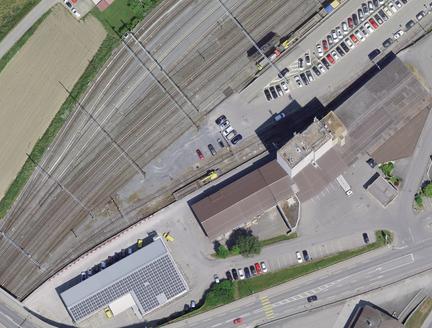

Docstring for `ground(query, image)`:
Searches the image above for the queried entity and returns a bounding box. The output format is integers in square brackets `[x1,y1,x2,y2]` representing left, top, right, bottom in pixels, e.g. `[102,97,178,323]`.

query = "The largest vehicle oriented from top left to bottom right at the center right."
[334,174,354,196]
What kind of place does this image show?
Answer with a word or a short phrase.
rail yard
